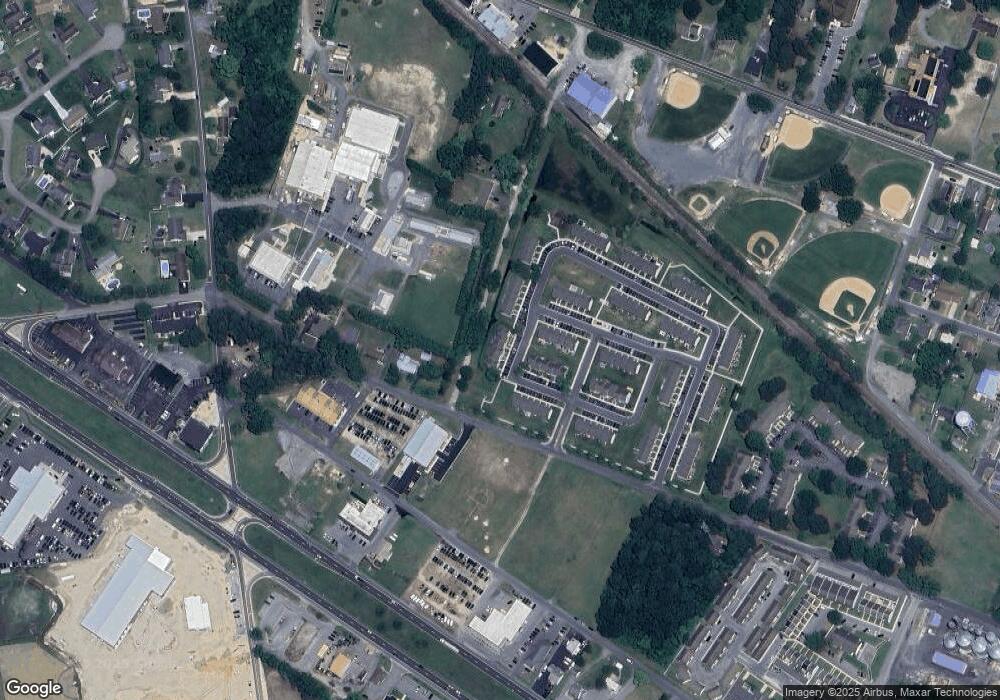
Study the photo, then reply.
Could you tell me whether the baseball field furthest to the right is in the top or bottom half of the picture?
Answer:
top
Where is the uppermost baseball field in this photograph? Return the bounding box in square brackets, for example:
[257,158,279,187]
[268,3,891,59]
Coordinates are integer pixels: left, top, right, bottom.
[649,66,740,144]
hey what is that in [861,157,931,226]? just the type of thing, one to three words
baseball field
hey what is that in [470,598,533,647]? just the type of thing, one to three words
building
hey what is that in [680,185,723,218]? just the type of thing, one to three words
baseball field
